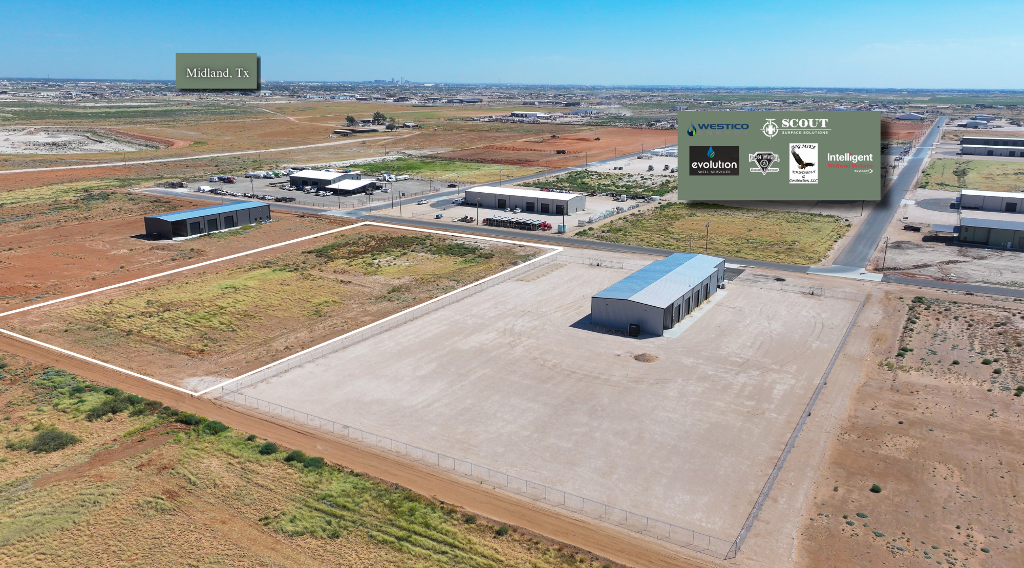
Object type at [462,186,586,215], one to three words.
building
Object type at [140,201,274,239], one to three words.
building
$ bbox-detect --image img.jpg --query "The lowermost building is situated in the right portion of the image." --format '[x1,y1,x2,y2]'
[590,253,727,336]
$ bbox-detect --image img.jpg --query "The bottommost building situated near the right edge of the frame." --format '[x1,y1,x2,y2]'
[922,218,1024,249]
